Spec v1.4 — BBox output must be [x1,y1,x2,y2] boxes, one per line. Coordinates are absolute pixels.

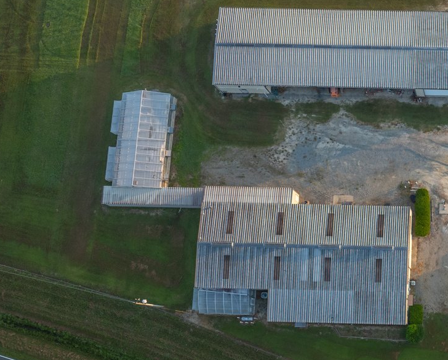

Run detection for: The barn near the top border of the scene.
[212,6,448,98]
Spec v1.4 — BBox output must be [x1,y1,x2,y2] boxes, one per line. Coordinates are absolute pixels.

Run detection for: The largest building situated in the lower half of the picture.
[194,186,412,326]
